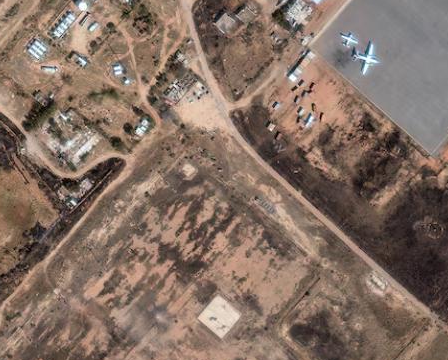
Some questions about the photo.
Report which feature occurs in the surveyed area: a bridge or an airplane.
airplane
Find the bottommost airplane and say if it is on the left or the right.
right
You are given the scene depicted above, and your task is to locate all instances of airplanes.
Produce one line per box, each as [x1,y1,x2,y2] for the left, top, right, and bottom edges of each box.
[342,35,358,47]
[353,45,379,73]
